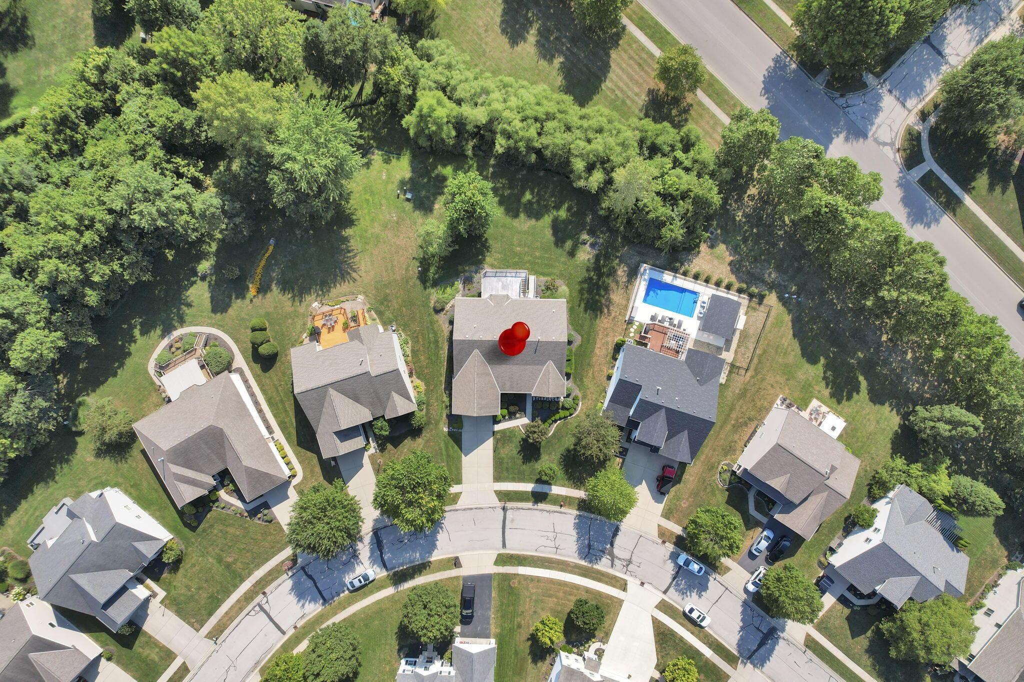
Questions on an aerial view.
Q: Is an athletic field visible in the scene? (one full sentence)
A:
No, there appears to be no athletic field in this shot.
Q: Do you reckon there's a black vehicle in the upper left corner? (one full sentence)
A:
No, I can find no black vehicle in the upper left corner.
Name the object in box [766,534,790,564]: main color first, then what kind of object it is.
black car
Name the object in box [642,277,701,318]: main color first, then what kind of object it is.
blue swimming pool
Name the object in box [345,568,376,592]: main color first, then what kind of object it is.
white car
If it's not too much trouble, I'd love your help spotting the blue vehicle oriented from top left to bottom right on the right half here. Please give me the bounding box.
[675,552,706,578]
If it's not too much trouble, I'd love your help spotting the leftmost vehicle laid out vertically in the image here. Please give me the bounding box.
[460,583,475,622]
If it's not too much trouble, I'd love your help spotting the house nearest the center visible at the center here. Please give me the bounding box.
[452,294,568,417]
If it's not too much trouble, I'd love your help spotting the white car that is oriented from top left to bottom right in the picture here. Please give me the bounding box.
[681,602,710,628]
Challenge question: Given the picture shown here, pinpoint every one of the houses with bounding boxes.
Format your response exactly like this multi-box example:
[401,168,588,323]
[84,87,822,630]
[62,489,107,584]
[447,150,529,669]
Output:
[0,596,102,682]
[291,324,418,458]
[950,555,1024,682]
[551,653,625,682]
[132,370,292,508]
[29,489,175,632]
[737,409,861,541]
[452,294,568,417]
[603,343,725,464]
[827,488,973,616]
[396,638,496,682]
